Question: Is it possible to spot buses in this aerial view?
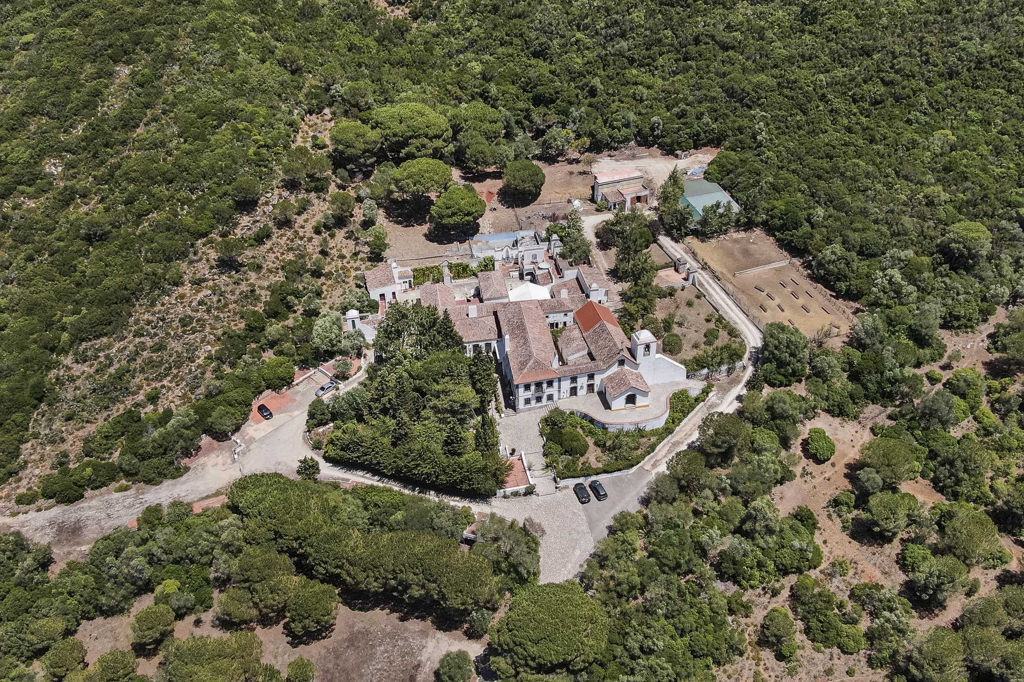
No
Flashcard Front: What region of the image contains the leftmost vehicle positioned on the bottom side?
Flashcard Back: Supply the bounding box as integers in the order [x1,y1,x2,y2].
[257,402,272,417]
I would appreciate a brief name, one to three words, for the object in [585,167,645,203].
barn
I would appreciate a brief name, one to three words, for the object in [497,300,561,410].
house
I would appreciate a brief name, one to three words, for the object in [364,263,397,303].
house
